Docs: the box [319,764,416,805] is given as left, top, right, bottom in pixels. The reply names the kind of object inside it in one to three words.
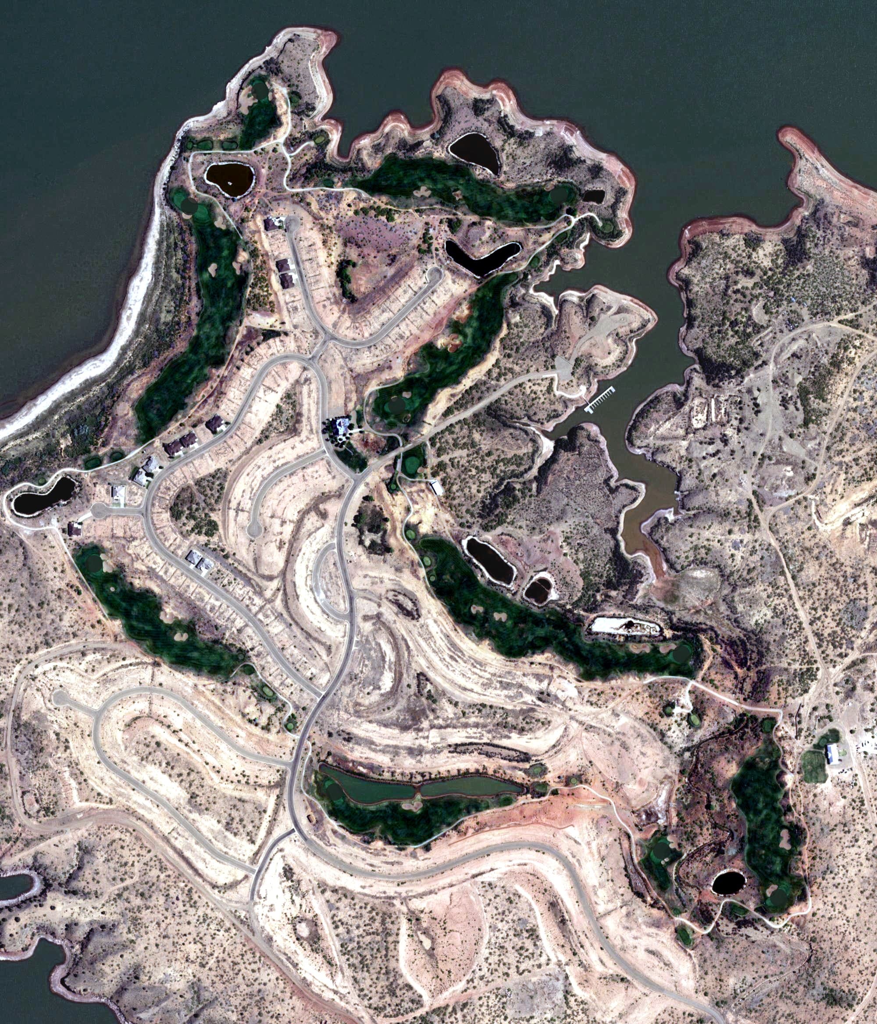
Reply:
pond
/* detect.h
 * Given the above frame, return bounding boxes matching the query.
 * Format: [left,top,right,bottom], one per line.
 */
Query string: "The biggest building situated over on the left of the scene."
[332,417,350,439]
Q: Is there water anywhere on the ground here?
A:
Yes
